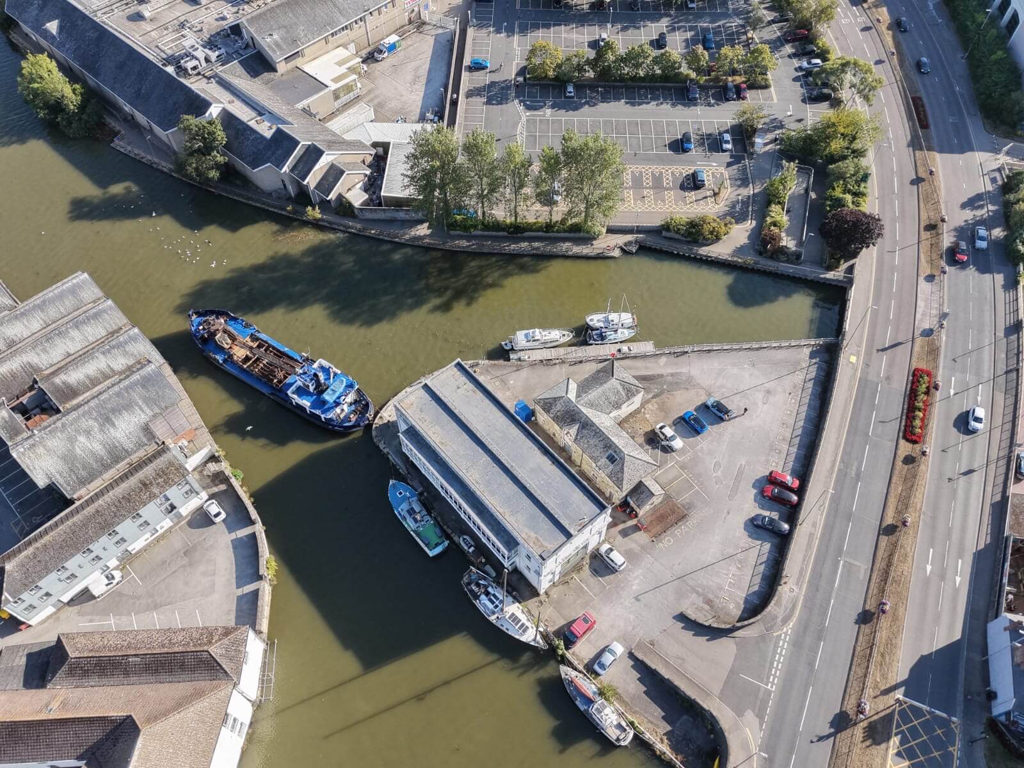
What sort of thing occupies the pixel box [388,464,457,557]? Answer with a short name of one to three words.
boat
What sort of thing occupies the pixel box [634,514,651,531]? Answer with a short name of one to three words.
work vehicle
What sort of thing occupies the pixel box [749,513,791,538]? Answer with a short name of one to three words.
car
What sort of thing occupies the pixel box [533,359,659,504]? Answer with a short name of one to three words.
house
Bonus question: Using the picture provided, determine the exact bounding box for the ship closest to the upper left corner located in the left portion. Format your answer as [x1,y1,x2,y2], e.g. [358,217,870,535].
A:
[188,309,381,447]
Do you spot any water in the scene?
Yes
